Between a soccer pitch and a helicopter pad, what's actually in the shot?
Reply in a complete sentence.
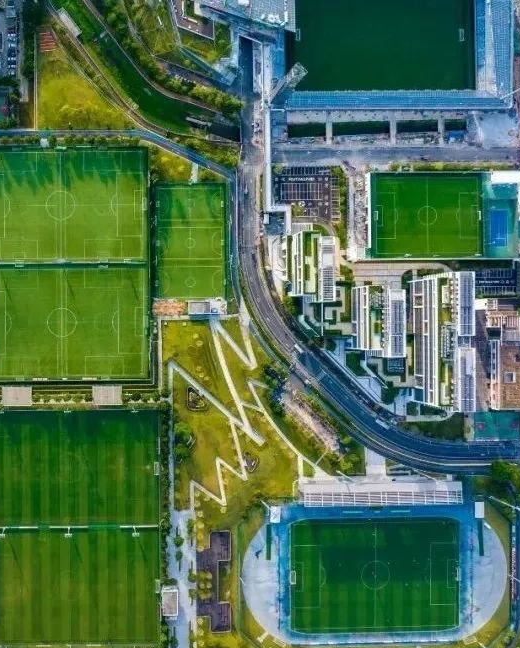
There is a soccer pitch in the scene.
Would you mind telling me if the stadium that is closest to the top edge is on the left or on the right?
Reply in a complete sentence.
It is on the right.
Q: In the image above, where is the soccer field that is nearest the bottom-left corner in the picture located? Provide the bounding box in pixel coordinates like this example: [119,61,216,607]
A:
[0,528,165,648]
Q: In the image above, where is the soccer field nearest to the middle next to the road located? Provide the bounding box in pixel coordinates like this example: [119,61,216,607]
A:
[152,182,229,302]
